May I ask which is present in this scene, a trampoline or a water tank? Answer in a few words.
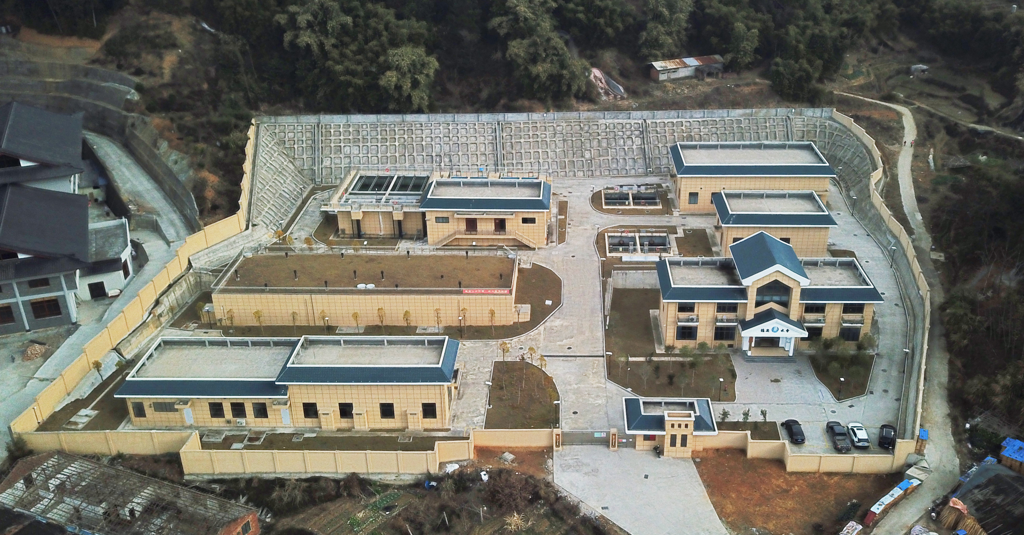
water tank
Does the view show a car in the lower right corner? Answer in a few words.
Yes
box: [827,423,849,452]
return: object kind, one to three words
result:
truck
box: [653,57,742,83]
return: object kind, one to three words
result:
shed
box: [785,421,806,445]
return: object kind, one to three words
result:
car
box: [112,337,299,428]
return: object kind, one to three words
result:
building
